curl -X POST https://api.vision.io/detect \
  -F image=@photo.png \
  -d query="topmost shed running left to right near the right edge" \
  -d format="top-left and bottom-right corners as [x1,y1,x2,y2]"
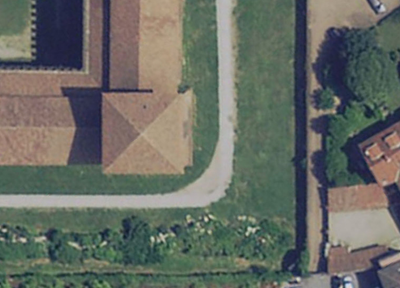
[327,184,387,212]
